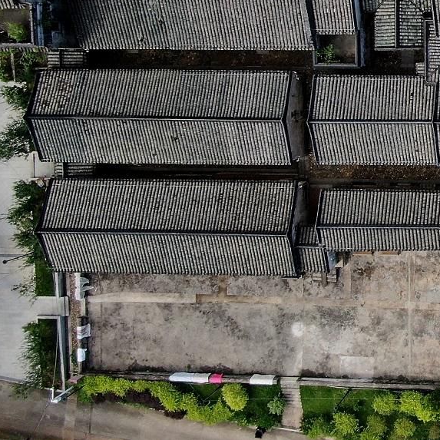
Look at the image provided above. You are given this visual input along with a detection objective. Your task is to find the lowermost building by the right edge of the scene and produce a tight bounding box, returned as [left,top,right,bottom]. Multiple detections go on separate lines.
[315,188,440,252]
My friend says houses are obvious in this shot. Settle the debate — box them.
[25,70,307,167]
[307,76,436,165]
[355,0,433,64]
[315,188,440,252]
[36,177,314,277]
[65,0,314,50]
